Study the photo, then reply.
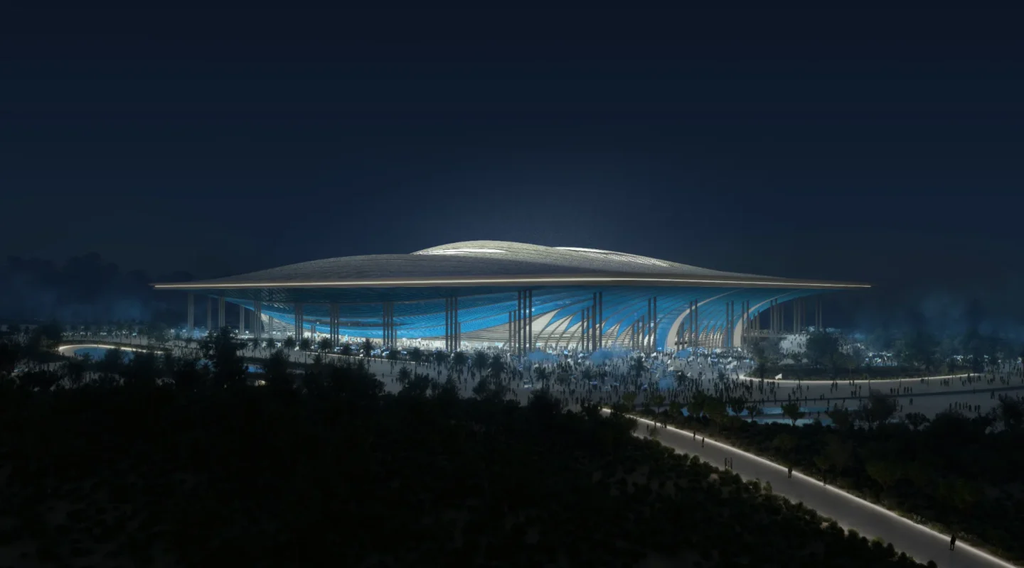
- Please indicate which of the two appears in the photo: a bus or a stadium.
stadium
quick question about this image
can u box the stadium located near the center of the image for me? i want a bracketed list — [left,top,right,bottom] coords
[151,240,873,352]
